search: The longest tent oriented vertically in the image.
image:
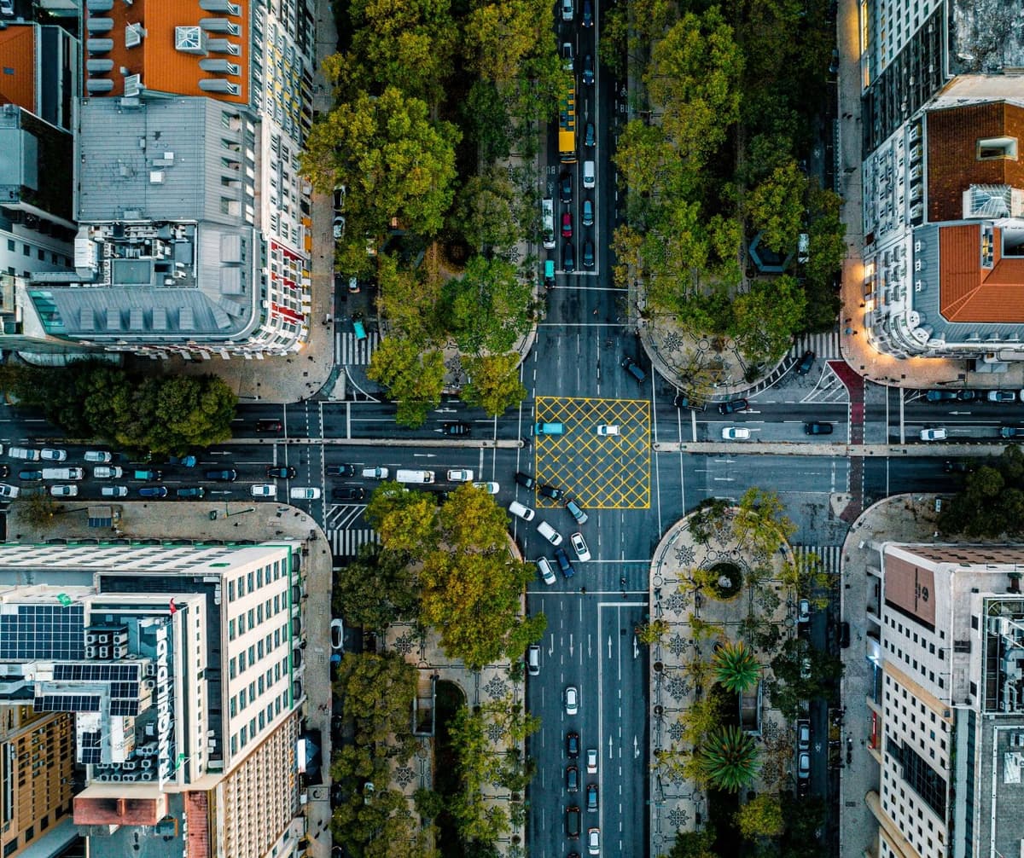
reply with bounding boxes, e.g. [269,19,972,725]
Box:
[301,724,327,781]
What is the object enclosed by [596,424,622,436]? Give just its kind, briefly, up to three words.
vehicle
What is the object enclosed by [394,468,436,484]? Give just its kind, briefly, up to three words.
vehicle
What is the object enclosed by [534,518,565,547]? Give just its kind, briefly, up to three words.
van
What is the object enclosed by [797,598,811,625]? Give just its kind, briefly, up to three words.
car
